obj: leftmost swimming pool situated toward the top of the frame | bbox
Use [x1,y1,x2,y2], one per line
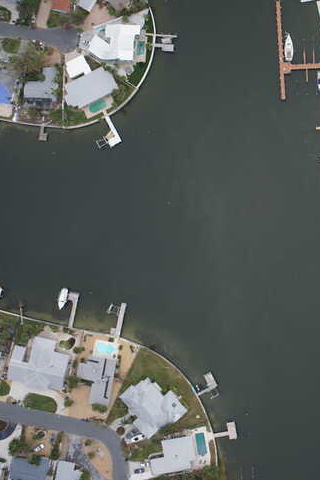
[87,97,108,113]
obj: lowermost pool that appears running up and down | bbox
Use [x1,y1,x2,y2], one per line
[195,433,207,456]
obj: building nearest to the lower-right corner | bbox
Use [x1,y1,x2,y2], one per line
[148,433,198,476]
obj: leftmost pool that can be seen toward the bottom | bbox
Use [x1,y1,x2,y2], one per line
[95,341,116,354]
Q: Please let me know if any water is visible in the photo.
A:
Yes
